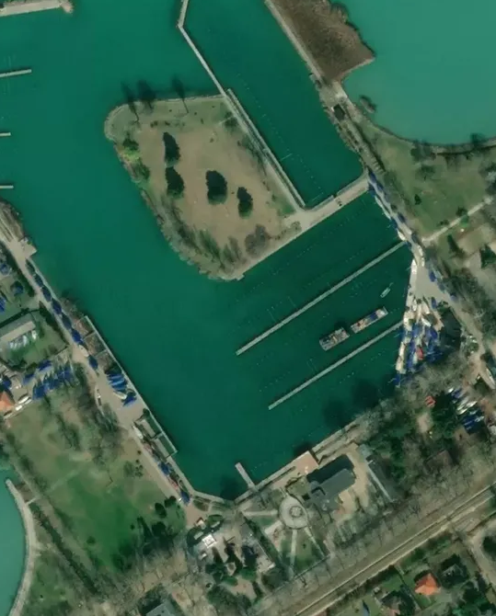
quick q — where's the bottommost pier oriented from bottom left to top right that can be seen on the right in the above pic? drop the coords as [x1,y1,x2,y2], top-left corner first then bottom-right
[268,321,401,410]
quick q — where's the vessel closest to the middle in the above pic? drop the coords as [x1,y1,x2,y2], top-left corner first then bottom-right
[320,323,350,347]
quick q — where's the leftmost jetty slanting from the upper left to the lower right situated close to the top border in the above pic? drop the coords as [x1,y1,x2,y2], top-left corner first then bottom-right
[179,25,228,98]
